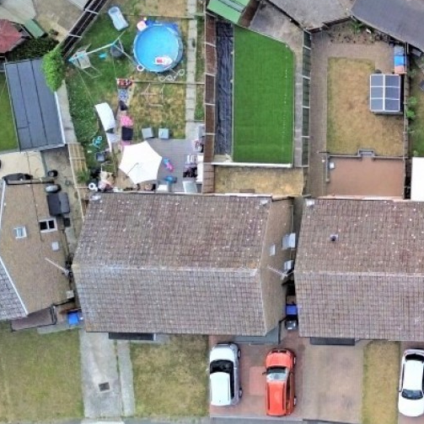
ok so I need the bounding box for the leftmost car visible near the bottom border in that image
[203,344,240,410]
